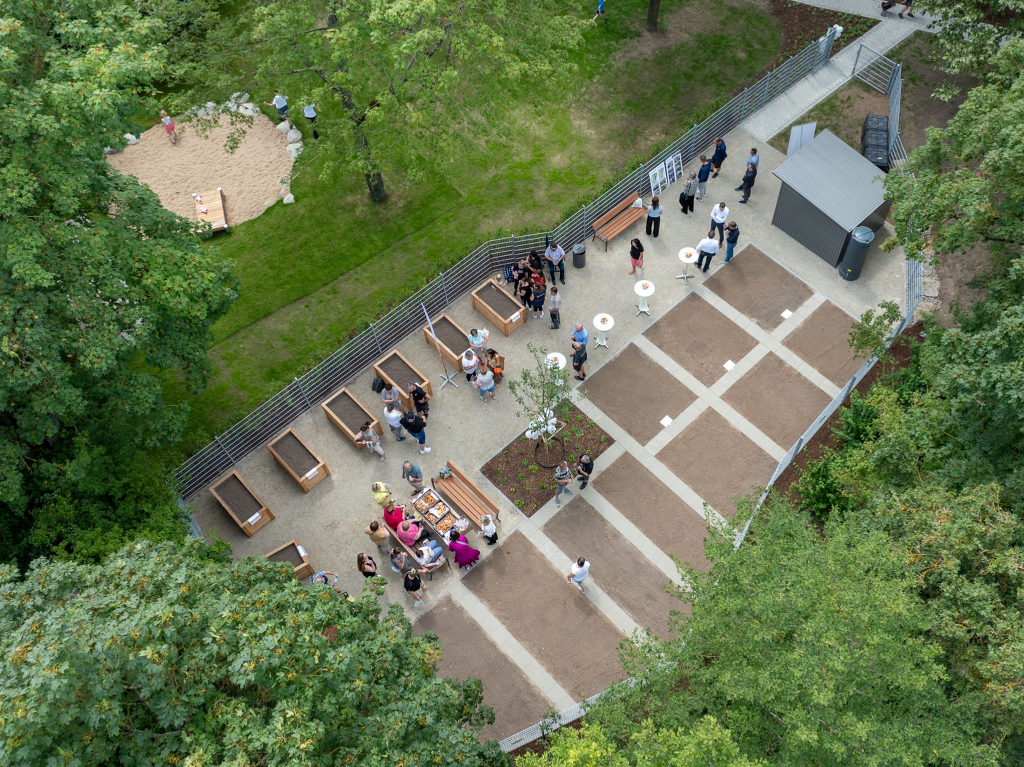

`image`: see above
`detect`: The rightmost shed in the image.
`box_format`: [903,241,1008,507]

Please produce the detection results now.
[771,134,902,268]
